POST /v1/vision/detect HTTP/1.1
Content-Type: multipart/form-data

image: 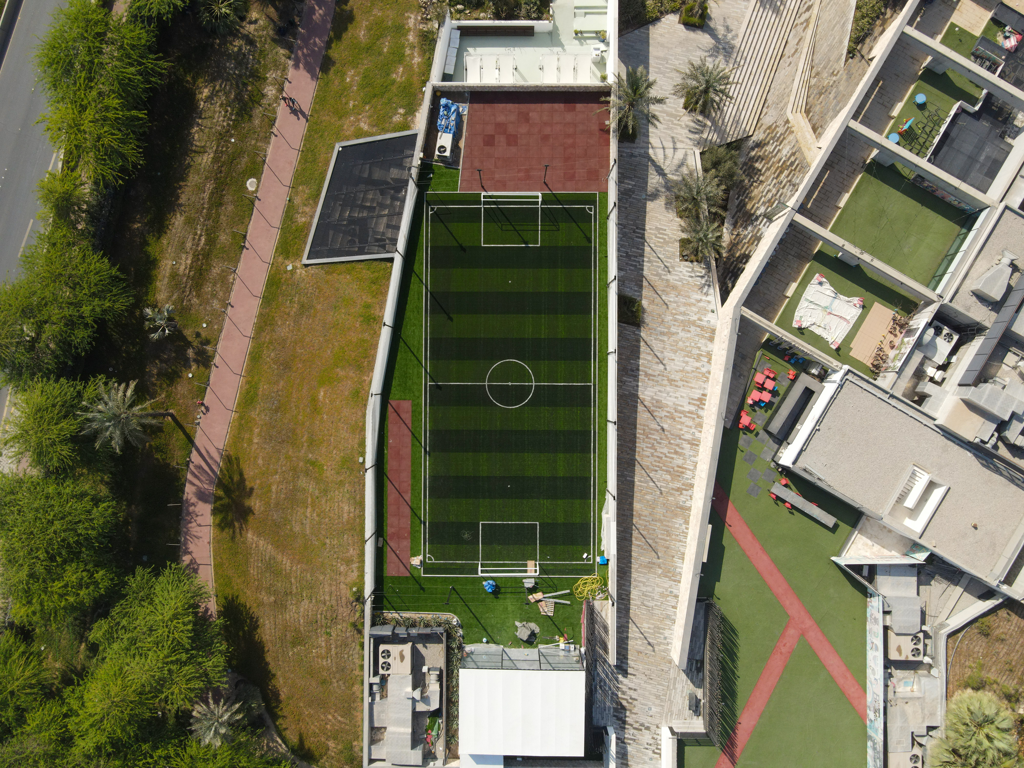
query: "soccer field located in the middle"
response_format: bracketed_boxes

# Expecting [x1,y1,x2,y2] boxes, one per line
[422,192,598,577]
